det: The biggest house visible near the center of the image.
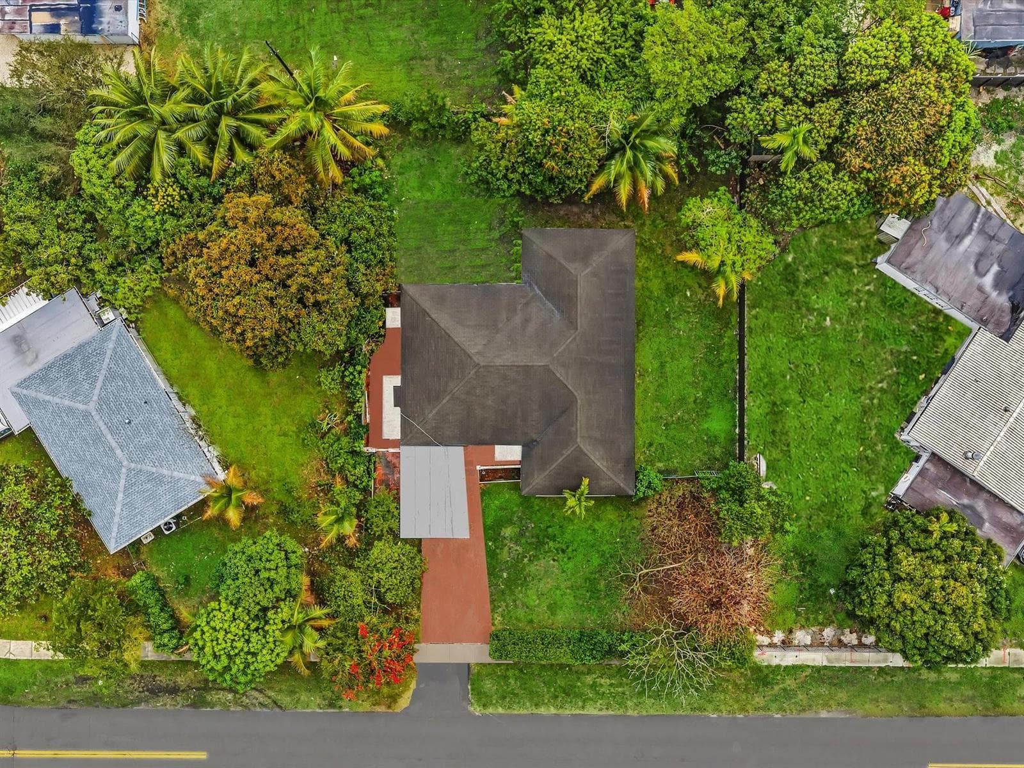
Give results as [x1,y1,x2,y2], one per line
[394,227,636,497]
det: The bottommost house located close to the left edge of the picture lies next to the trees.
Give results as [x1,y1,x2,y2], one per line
[0,275,228,555]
